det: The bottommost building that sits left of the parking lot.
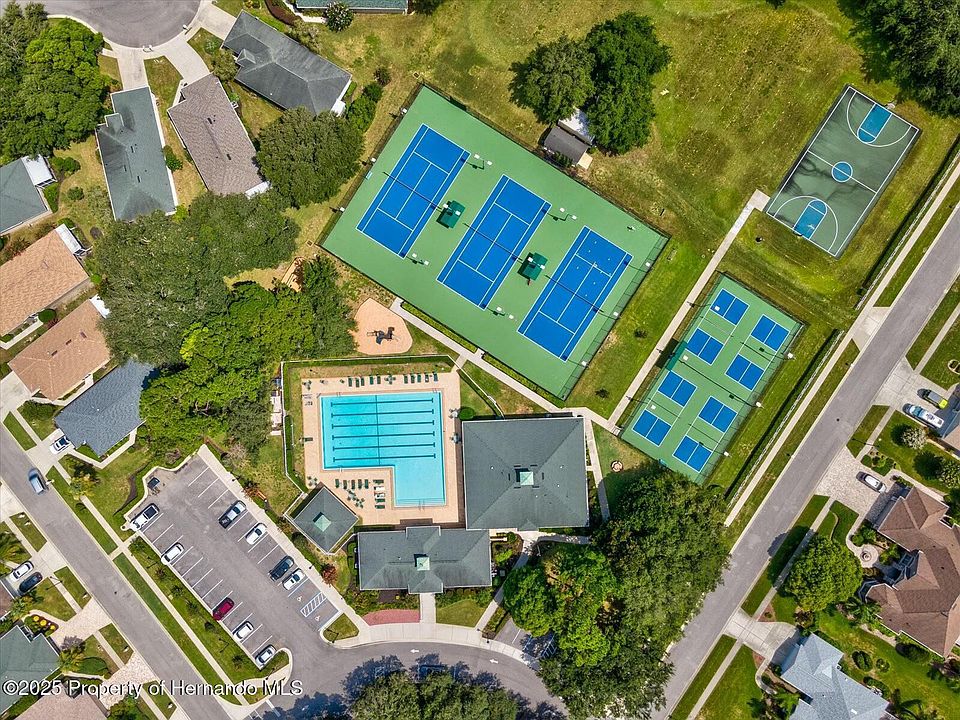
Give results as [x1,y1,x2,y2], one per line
[12,679,108,720]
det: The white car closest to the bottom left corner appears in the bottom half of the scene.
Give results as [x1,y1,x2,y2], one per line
[11,559,36,580]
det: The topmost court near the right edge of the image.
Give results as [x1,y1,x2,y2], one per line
[760,81,925,262]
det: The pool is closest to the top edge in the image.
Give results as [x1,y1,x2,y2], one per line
[318,388,448,509]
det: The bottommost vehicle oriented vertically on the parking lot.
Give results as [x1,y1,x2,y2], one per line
[425,655,437,681]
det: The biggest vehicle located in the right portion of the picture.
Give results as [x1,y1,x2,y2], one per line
[905,405,944,428]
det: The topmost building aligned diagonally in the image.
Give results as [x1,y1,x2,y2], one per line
[222,9,352,121]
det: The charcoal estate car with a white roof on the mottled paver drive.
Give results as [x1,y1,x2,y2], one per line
[860,472,885,491]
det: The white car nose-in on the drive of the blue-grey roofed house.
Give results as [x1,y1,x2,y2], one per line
[50,435,71,454]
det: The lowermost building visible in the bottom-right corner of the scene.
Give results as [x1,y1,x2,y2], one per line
[774,632,888,720]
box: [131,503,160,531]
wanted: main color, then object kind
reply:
white truck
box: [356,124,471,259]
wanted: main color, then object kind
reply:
blue tennis court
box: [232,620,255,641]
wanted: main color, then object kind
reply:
white car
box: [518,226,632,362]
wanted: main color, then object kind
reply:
blue tennis court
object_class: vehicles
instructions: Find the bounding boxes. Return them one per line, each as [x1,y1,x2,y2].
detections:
[21,571,45,592]
[219,502,247,528]
[268,555,294,581]
[860,472,885,491]
[213,597,234,620]
[282,568,306,591]
[905,405,944,428]
[11,559,36,580]
[425,655,437,681]
[920,390,944,408]
[50,435,71,454]
[245,523,268,545]
[131,503,160,531]
[162,542,186,563]
[255,645,277,667]
[27,469,49,495]
[232,620,255,641]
